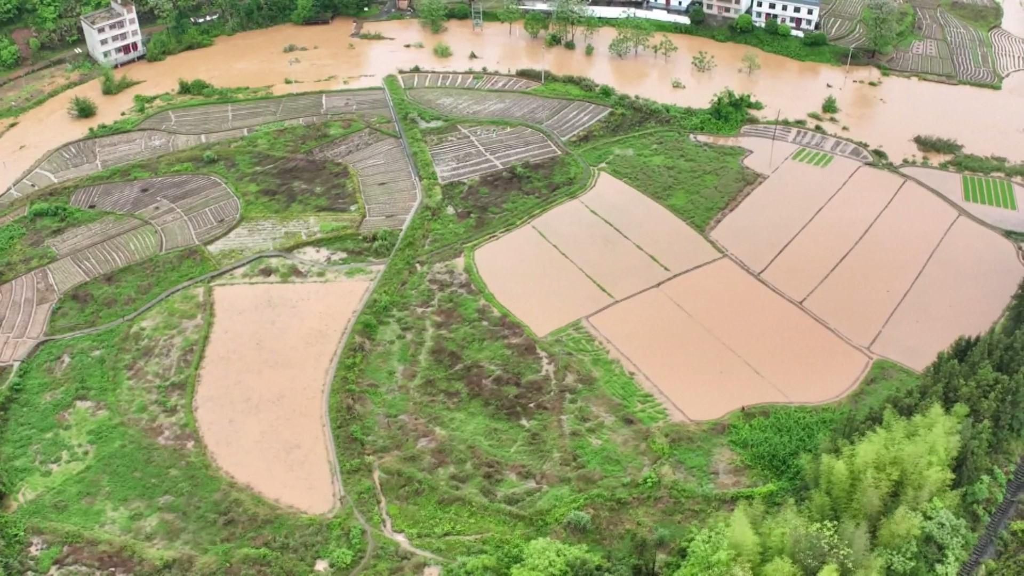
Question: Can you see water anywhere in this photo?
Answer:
Yes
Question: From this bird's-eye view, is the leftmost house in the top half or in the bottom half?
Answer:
top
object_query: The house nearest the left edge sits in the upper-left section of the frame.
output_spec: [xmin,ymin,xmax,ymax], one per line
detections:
[78,0,147,65]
